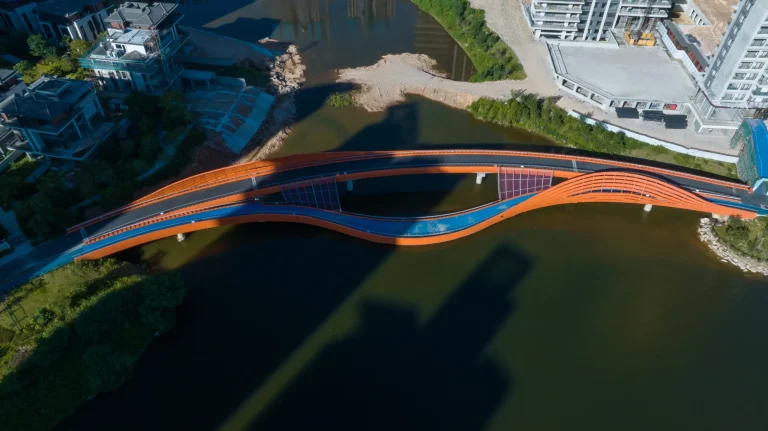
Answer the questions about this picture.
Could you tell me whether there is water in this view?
Yes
